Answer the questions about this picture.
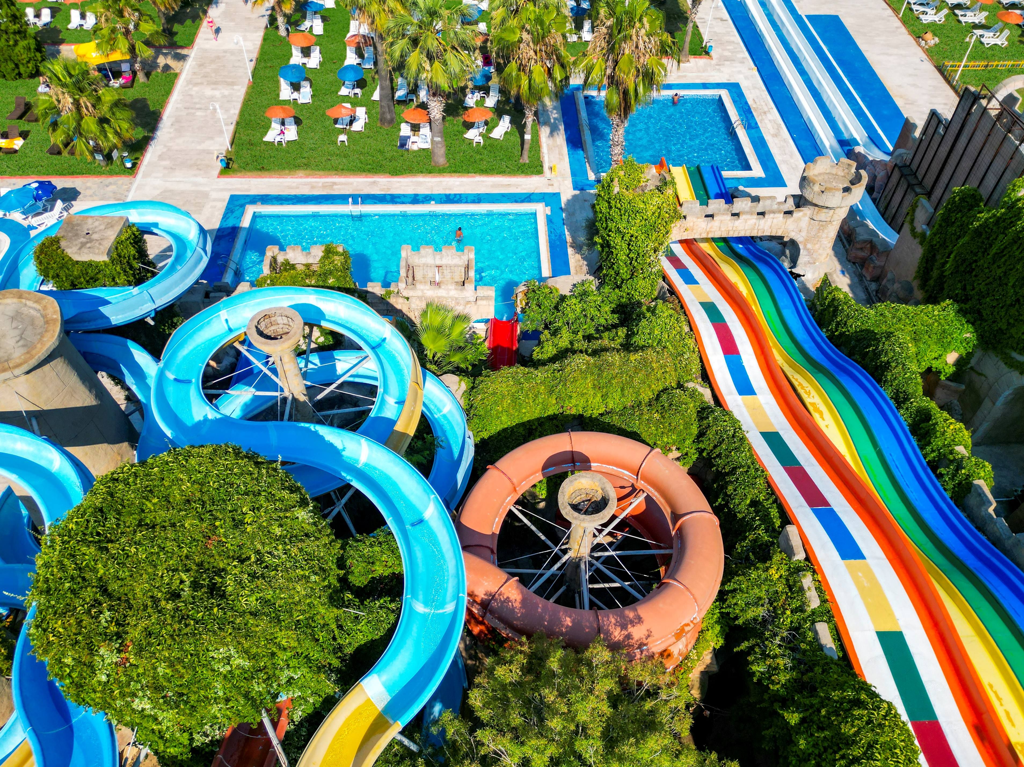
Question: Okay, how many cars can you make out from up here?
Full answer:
The count of cars is 0.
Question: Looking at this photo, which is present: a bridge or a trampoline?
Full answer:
Of the two, only a bridge appears.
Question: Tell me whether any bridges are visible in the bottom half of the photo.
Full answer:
No, no bridge is visible in the bottom half of the photo.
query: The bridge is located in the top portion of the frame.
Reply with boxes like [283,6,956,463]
[663,191,824,289]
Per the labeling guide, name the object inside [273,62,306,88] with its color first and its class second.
blue umbrella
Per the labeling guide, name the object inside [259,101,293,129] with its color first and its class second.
orange umbrella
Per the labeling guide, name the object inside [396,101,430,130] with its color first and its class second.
orange umbrella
